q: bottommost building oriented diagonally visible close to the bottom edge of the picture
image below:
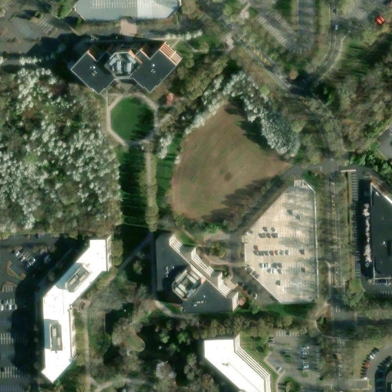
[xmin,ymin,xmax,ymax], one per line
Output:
[204,334,273,392]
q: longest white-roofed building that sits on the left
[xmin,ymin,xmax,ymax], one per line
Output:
[42,232,115,383]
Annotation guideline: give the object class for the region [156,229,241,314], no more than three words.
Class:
building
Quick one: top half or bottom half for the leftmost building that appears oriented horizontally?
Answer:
top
